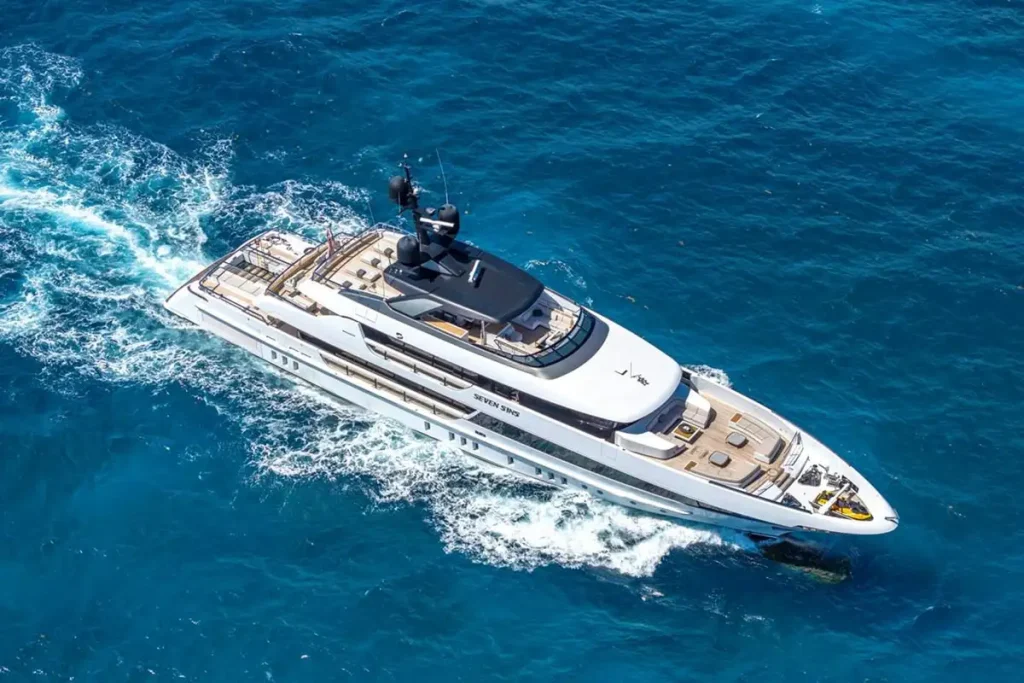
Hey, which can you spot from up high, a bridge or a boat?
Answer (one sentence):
Of the two, only a boat appears.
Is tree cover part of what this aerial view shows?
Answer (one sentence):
No, there is no tree cover in the image.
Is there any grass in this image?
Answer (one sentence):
No, there's no grass in this view.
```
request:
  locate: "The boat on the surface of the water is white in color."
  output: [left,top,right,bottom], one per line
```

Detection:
[165,149,902,592]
